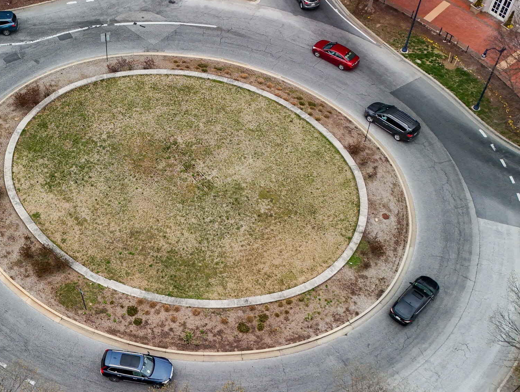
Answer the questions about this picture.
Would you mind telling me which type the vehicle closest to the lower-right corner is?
automobile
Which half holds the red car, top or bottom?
top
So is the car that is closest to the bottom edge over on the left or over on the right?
left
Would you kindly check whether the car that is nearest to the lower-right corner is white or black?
black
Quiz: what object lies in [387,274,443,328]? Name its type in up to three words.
car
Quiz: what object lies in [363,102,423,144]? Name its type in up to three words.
car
